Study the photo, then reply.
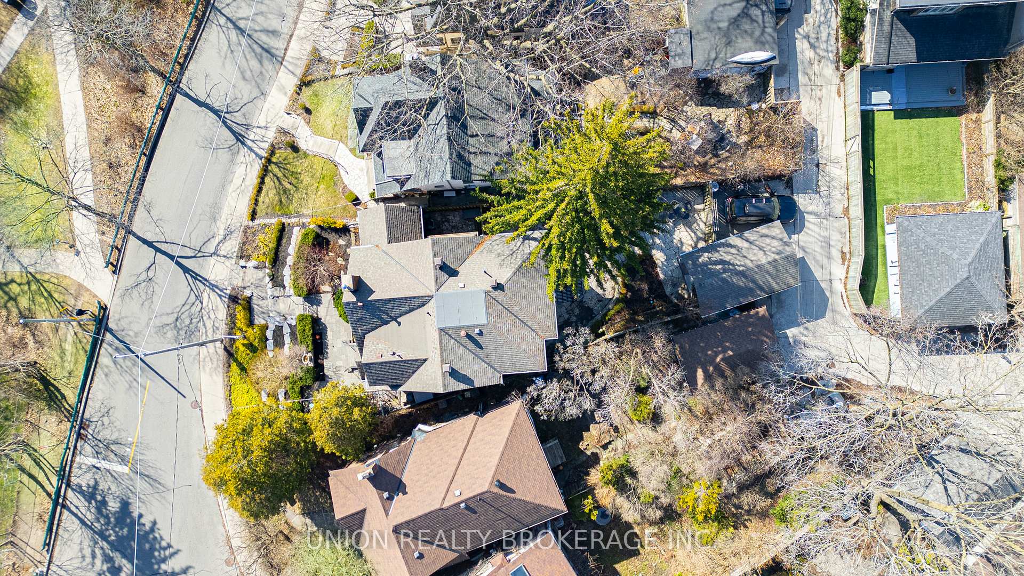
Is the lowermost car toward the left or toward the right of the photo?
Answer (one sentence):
The lowermost car sits on the right side.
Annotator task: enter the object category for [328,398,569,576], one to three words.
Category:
house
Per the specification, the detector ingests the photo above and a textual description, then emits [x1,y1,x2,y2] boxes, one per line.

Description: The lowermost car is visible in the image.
[727,190,803,225]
